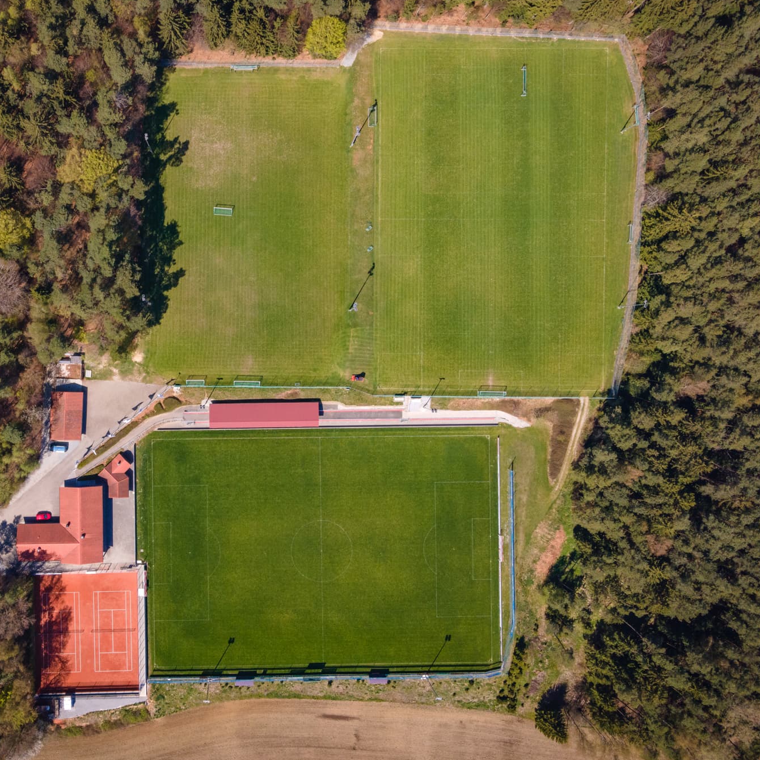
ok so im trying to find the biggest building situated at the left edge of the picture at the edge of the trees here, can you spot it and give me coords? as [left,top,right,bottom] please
[17,485,103,565]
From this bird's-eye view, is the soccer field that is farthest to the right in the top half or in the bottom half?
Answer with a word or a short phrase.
top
